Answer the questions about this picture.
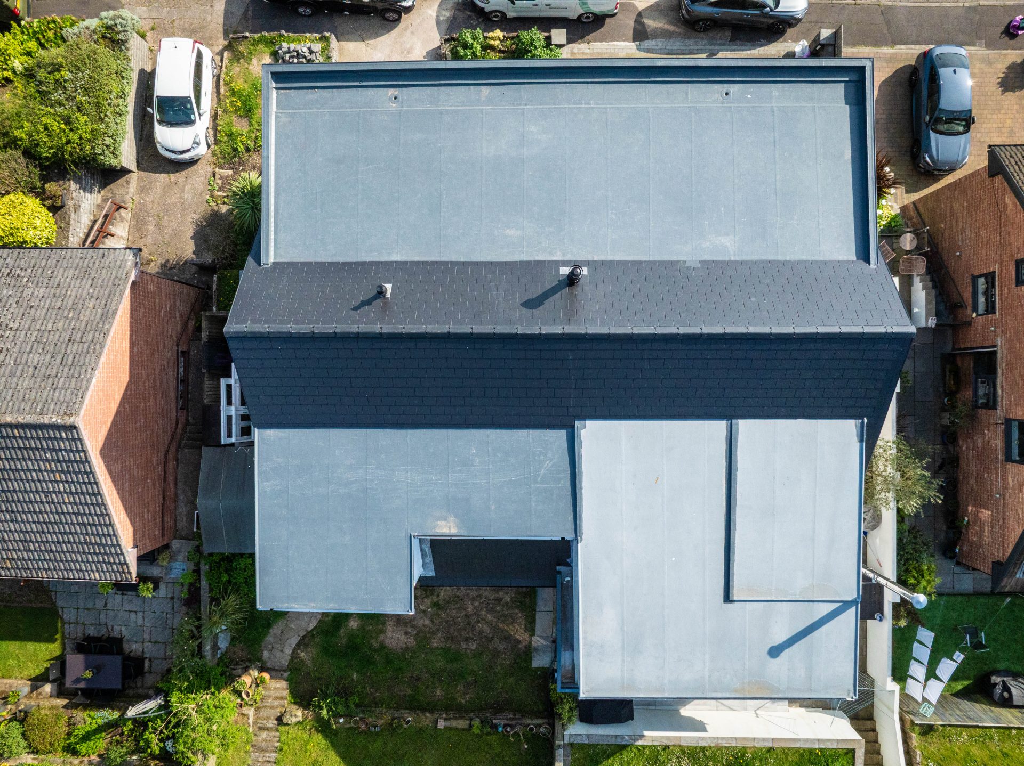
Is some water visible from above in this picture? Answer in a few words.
No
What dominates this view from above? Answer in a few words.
buildings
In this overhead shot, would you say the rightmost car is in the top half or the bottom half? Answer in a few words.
top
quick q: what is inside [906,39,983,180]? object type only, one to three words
car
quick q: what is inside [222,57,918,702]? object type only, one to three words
house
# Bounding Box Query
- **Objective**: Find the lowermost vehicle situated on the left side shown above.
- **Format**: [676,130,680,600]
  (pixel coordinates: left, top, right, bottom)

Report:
[146,36,217,167]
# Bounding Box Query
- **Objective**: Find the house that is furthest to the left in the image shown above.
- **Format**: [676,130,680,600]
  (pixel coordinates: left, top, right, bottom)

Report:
[0,244,205,585]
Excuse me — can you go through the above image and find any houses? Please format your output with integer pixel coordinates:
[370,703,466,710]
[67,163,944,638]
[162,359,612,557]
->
[222,57,918,702]
[899,141,1024,600]
[0,244,205,585]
